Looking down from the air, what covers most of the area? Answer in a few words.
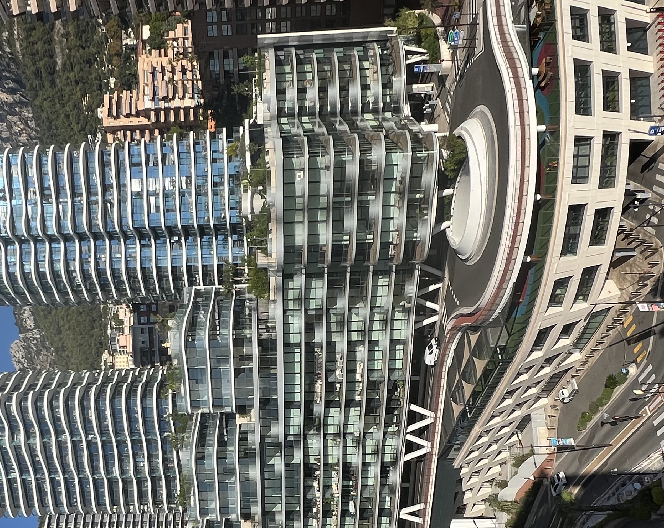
buildings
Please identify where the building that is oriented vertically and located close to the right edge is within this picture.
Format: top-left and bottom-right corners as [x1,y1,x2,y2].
[454,0,654,471]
